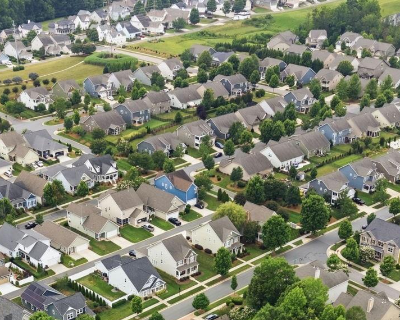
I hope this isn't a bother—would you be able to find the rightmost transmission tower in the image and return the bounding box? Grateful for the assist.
[104,4,118,57]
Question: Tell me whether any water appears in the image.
No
